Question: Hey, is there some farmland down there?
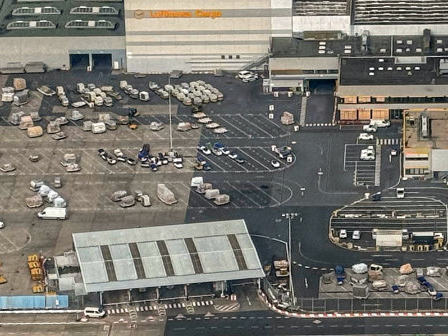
No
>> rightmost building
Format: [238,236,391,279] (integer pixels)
[402,103,448,180]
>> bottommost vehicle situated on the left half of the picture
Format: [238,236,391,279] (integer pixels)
[81,306,106,318]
